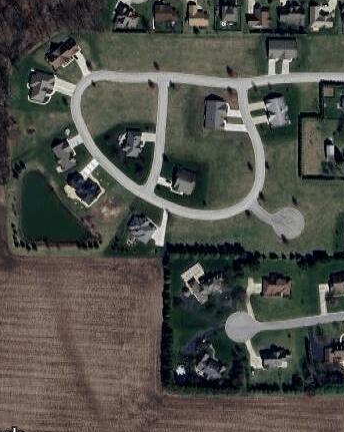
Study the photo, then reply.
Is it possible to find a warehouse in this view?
No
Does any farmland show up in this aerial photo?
Yes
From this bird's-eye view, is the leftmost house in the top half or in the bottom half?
top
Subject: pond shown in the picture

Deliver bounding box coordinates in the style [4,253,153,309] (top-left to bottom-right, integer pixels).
[21,172,93,242]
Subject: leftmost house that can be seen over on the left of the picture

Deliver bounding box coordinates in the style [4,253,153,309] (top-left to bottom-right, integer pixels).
[26,75,54,101]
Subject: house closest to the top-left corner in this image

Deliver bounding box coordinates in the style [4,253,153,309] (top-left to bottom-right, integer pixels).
[44,37,78,67]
